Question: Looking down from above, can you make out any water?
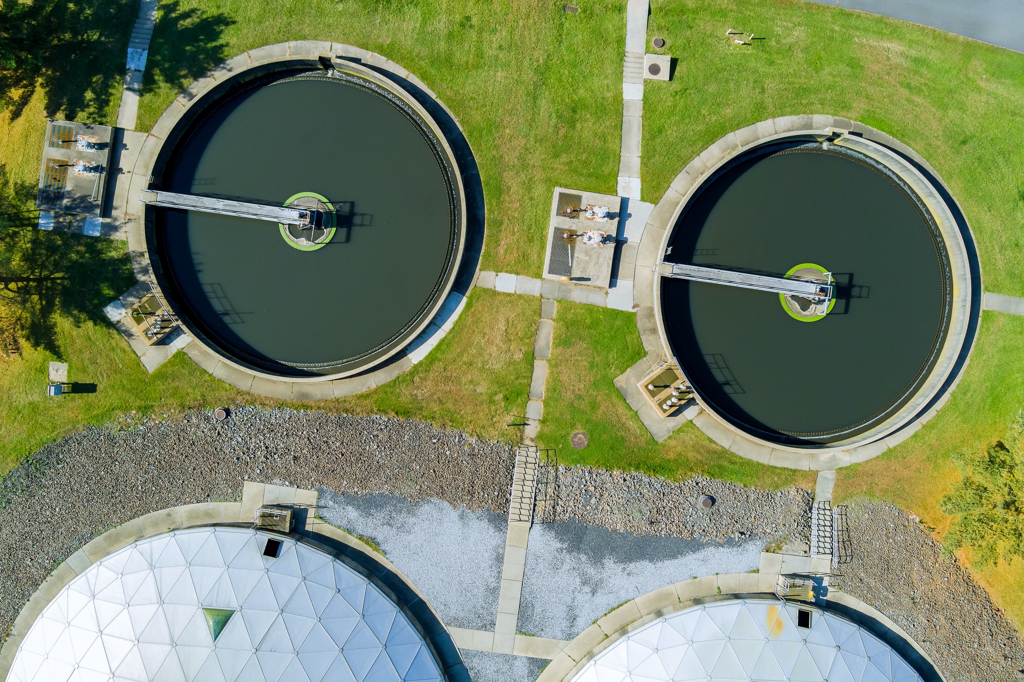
Yes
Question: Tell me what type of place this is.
industrial area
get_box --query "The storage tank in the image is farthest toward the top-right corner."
[641,125,973,452]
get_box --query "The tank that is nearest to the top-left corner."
[140,49,466,381]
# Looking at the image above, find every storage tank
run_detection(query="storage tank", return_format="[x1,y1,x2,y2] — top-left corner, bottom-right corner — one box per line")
[0,524,446,682]
[140,49,466,381]
[565,594,928,682]
[641,125,973,452]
